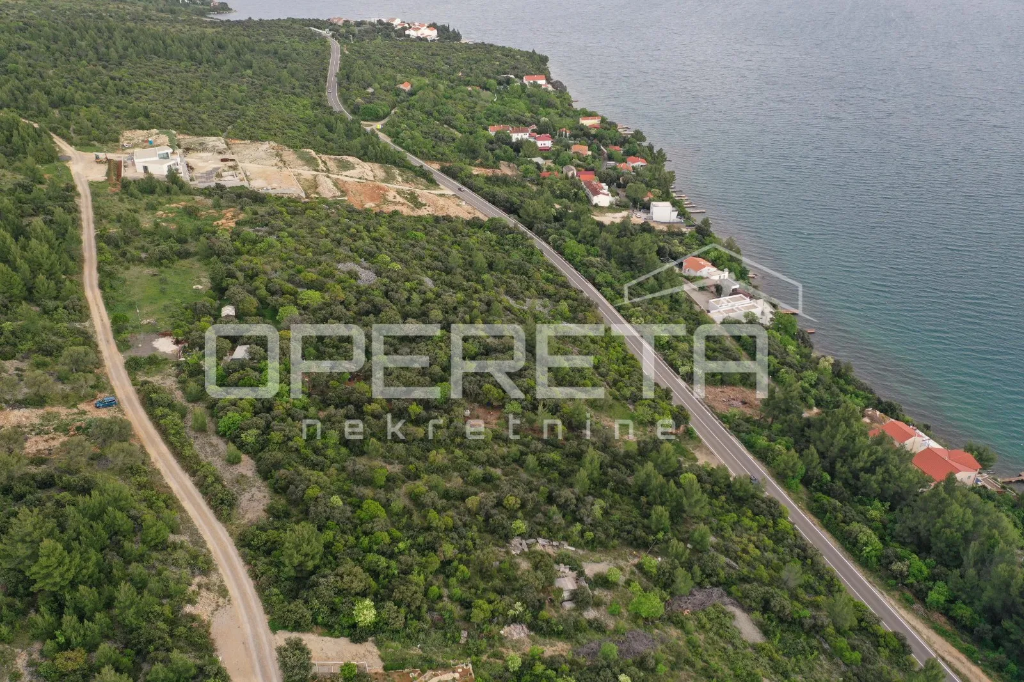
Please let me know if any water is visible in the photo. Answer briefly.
Yes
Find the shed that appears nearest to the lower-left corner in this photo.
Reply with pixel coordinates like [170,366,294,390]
[230,342,254,365]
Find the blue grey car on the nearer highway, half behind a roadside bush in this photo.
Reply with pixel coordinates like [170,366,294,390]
[745,476,762,492]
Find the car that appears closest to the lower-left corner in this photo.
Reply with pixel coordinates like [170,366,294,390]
[91,394,119,408]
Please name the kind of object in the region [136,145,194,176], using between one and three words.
house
